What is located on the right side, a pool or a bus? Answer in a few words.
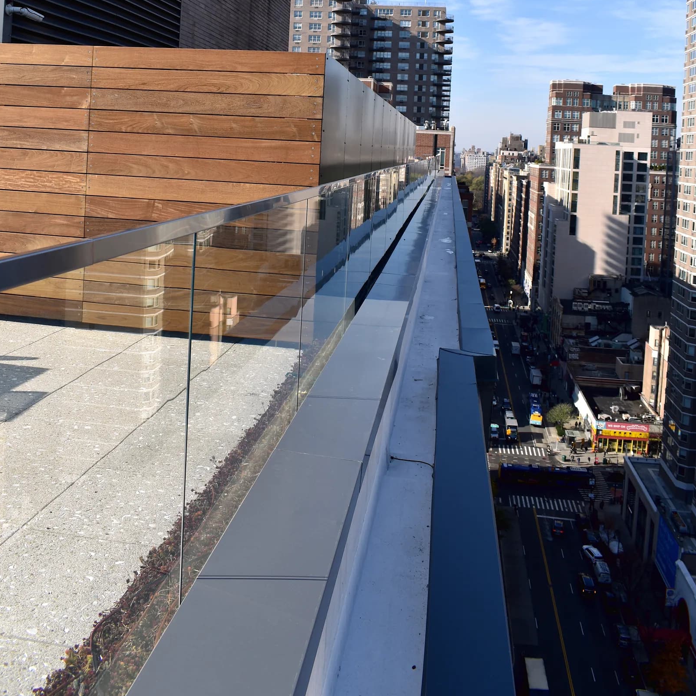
bus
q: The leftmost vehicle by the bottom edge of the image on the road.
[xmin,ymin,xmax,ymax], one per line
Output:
[521,653,551,696]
